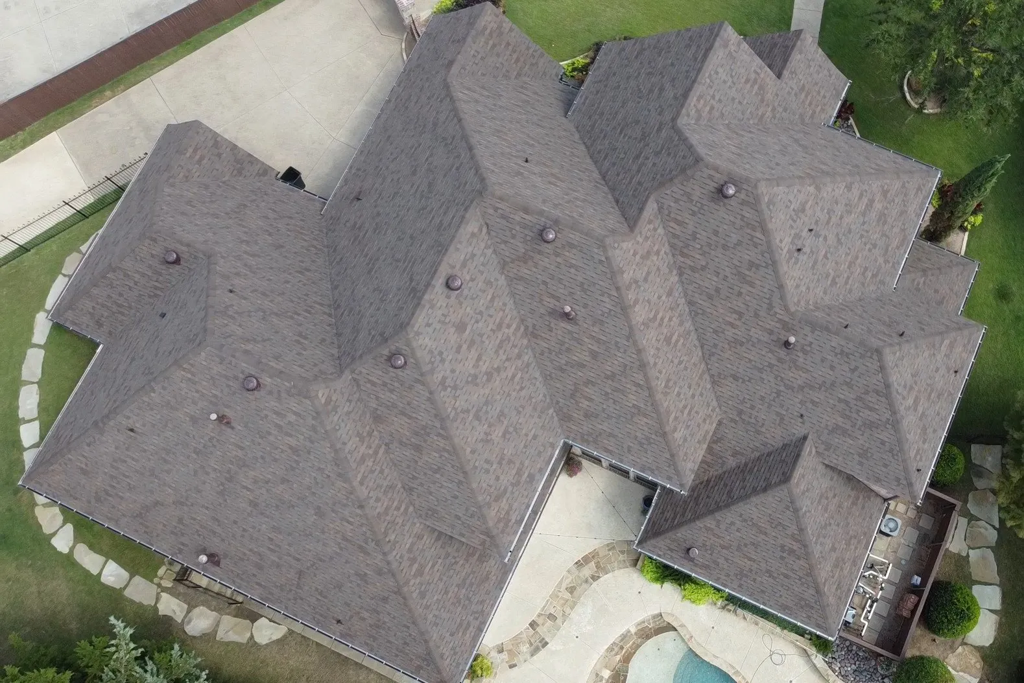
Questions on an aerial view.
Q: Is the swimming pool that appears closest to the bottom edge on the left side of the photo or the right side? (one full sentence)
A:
You can find the swimming pool that appears closest to the bottom edge on the right side of the picture.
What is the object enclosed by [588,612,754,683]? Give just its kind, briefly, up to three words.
swimming pool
